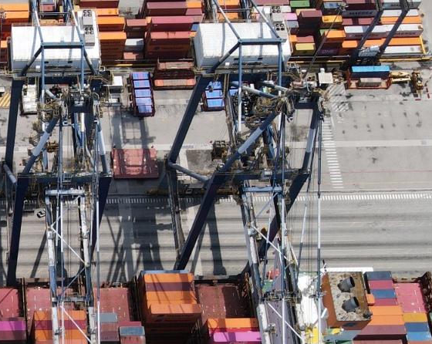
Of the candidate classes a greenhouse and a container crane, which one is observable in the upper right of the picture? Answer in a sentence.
Looking in the upper right of the picture, you will find a container crane.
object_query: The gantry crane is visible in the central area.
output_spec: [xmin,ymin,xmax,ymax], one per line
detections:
[135,0,329,344]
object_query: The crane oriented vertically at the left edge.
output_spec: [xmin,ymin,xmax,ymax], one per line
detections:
[0,0,120,344]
